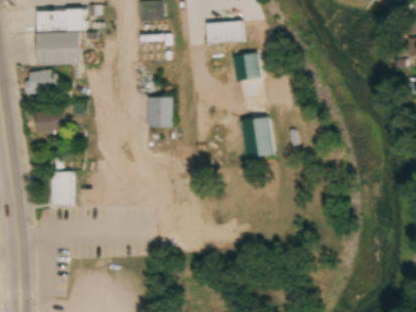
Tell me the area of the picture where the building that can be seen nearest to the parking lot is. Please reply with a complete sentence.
You can find the building that can be seen nearest to the parking lot in the left area of the picture.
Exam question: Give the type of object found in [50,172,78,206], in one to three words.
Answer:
building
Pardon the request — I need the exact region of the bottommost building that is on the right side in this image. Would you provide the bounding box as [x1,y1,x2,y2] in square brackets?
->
[242,118,278,158]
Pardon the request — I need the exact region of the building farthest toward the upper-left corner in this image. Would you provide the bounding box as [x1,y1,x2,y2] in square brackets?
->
[36,10,68,33]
